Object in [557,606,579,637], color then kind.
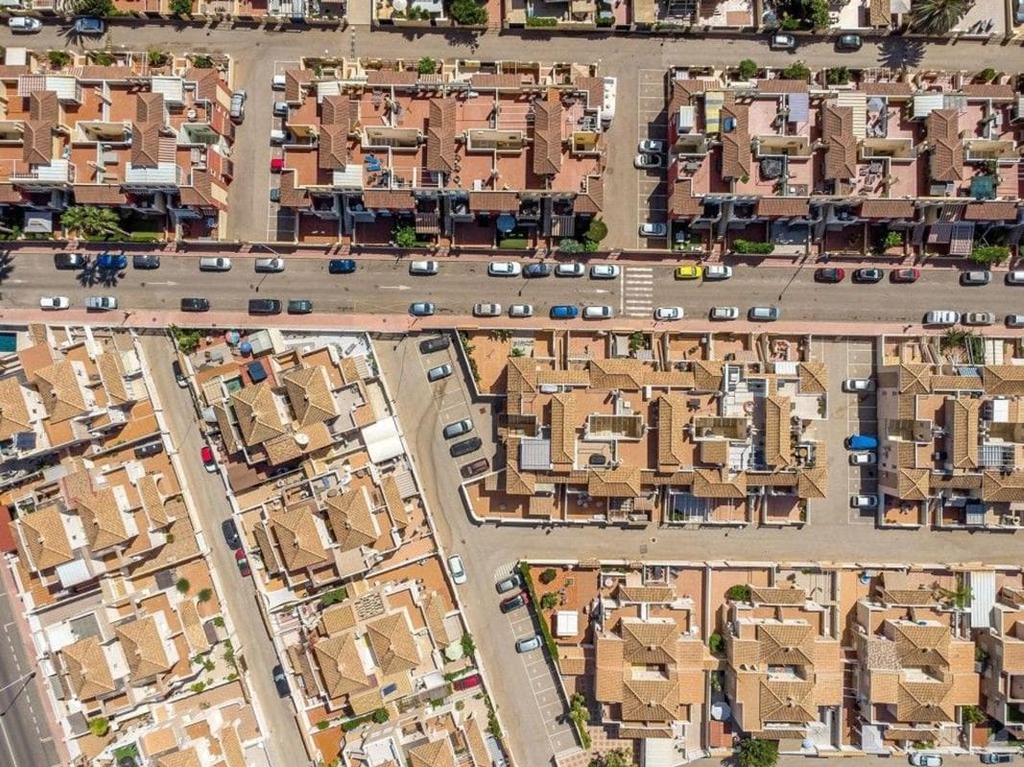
white gazebo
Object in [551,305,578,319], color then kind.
blue car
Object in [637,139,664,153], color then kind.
gray car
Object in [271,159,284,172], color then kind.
red vehicle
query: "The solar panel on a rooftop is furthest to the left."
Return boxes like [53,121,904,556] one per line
[13,430,38,453]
